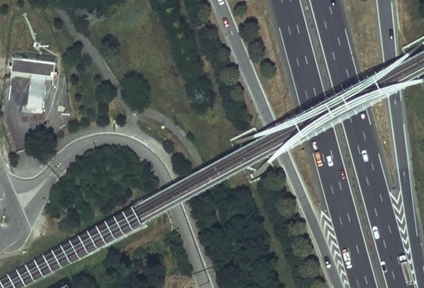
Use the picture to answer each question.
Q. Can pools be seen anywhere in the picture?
No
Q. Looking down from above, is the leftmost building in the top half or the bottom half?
top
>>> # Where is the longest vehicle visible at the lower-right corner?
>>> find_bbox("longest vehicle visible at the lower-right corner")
[398,251,414,284]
